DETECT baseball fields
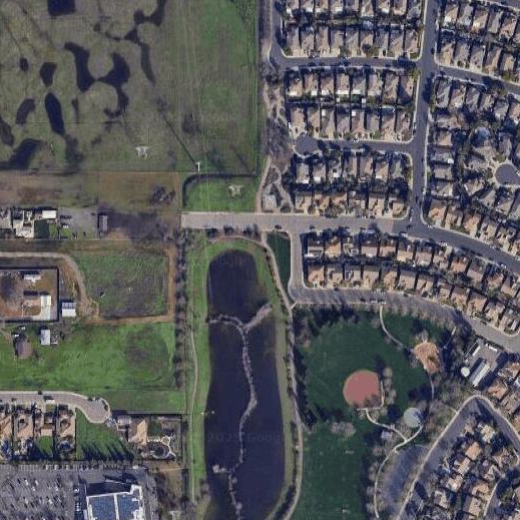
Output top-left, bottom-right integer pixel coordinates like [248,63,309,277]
[342,368,383,409]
